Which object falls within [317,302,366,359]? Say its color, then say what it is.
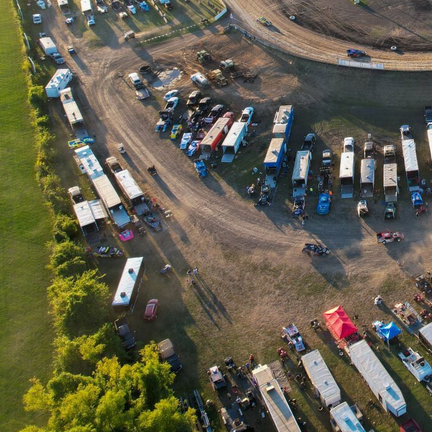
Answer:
red tent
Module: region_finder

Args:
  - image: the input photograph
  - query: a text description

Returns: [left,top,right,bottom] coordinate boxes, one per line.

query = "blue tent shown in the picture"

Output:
[377,322,406,354]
